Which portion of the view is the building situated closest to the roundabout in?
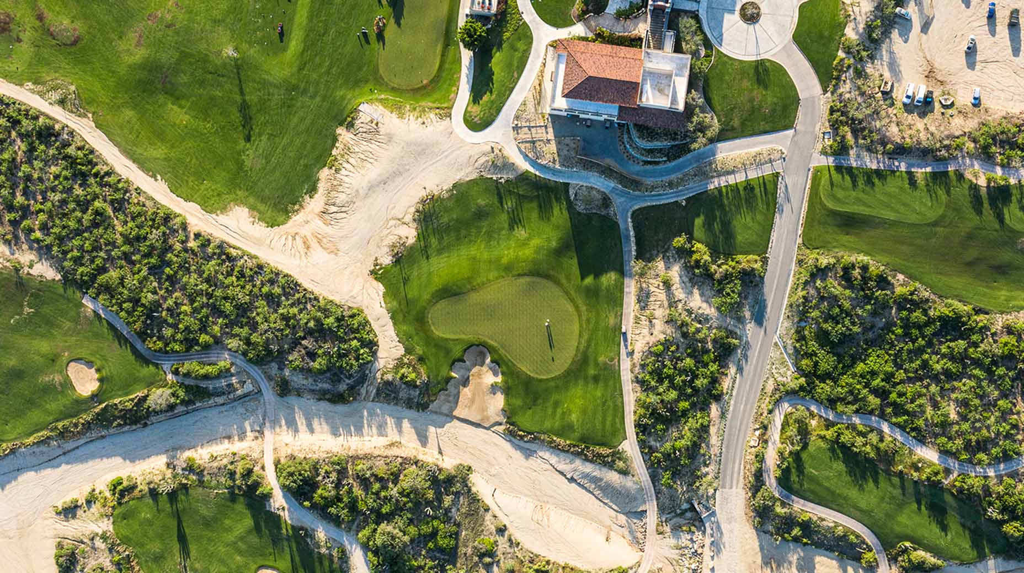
top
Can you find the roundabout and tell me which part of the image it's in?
top right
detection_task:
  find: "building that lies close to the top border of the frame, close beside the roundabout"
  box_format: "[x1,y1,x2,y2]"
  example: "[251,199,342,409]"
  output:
[540,4,691,129]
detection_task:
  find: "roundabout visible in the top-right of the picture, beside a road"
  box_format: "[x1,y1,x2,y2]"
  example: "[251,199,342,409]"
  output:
[700,0,800,60]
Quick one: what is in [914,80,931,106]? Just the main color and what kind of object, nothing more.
white vehicle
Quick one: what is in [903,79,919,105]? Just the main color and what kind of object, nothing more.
white vehicle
